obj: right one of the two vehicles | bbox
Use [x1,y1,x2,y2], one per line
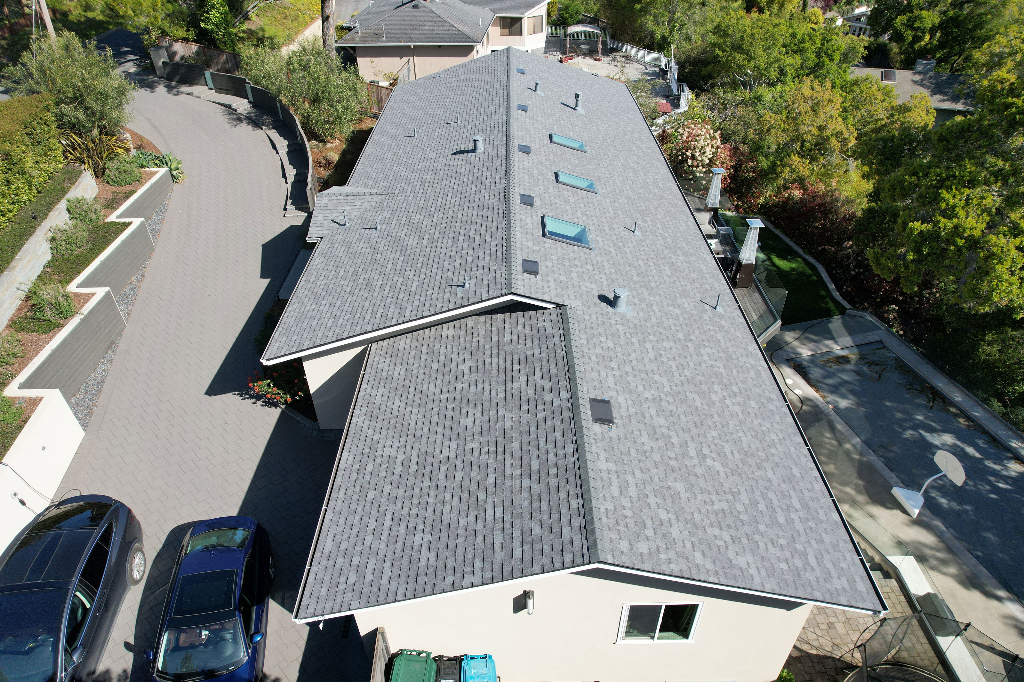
[131,519,281,682]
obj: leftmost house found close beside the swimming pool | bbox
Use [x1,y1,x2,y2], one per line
[259,46,890,682]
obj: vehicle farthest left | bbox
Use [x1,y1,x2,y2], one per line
[0,497,143,682]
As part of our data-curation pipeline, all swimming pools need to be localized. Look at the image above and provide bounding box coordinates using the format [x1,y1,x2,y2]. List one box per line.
[764,330,1024,629]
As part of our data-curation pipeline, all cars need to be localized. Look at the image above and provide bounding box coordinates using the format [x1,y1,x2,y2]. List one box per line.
[131,519,281,682]
[0,497,143,682]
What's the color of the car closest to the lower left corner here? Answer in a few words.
black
